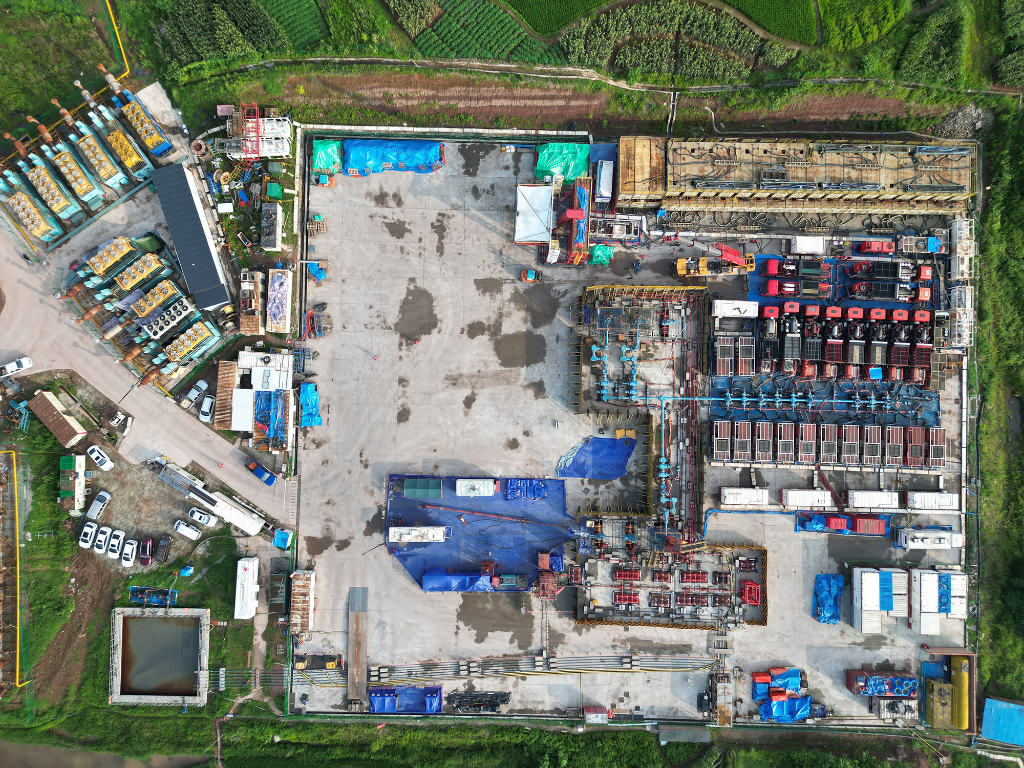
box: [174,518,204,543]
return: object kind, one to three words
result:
vehicle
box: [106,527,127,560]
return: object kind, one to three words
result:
car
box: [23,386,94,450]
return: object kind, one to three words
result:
house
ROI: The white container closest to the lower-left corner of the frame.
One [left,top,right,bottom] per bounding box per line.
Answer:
[289,565,316,633]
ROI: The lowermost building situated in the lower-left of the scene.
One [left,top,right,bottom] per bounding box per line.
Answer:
[234,553,263,617]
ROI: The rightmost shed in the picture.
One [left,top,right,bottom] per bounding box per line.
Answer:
[978,694,1024,745]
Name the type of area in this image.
industrial area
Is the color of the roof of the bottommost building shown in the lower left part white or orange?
white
